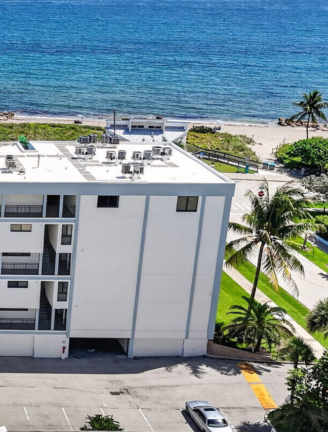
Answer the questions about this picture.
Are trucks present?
No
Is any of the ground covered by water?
Yes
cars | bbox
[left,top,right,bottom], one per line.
[189,402,237,431]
